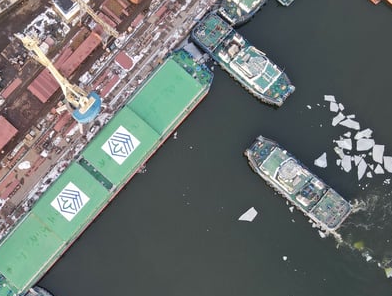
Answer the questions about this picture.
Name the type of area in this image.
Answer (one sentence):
The picture captures a port.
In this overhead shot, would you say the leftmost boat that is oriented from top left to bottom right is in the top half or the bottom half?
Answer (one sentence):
Seen from above, the leftmost boat that is oriented from top left to bottom right lies in the top half of the view.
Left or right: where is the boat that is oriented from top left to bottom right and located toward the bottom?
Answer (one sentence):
The boat that is oriented from top left to bottom right and located toward the bottom sits on the right side.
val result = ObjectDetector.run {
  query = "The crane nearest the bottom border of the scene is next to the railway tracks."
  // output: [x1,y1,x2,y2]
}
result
[16,37,109,134]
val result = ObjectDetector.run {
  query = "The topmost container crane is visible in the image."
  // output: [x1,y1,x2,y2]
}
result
[74,0,128,62]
